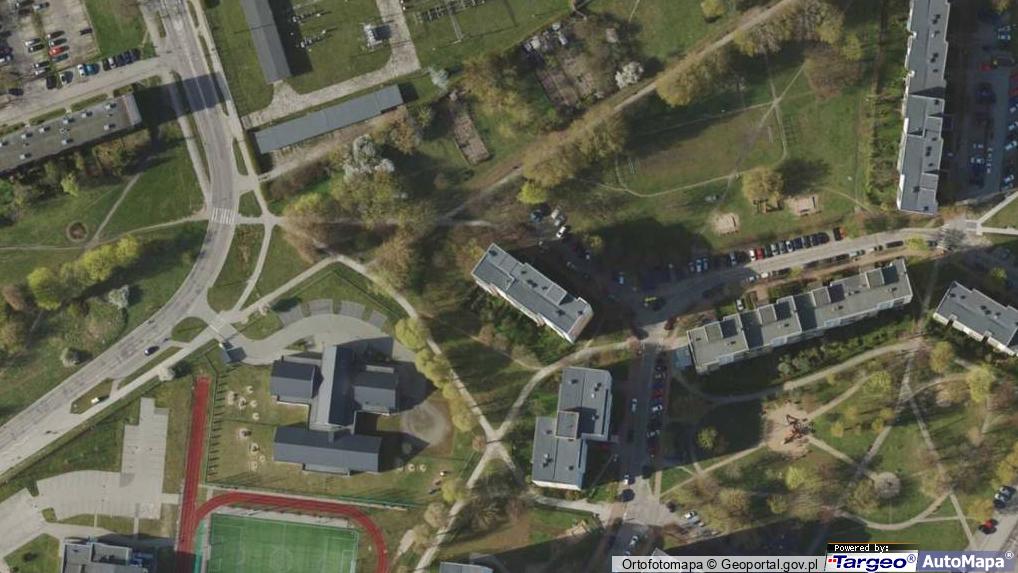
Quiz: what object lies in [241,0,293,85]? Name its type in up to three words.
building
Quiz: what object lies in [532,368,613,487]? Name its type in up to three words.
building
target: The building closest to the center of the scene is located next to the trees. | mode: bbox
[471,244,594,339]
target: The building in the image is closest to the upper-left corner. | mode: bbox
[0,95,144,184]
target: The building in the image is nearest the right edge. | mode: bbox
[933,282,1018,353]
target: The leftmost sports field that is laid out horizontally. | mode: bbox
[206,514,357,573]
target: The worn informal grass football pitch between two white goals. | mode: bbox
[639,129,766,183]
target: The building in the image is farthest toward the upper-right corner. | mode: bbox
[893,0,949,219]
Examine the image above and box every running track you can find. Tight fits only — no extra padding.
[174,376,388,573]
